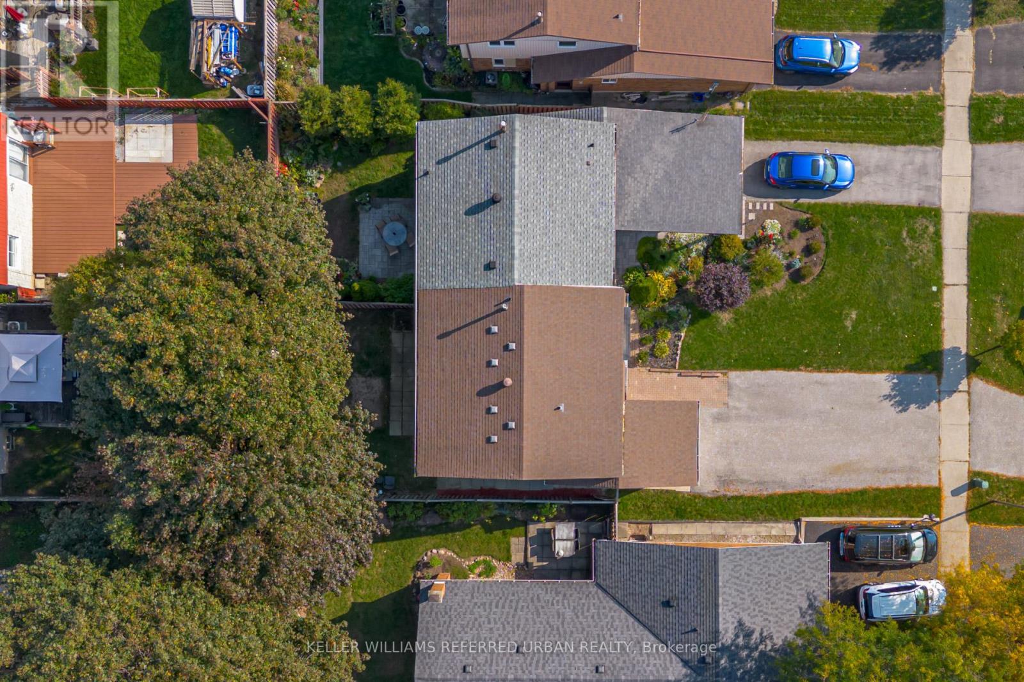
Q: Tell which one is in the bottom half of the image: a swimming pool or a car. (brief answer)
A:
car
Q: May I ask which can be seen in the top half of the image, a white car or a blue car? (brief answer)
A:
blue car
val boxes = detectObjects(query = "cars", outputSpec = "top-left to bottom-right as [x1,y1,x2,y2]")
[833,523,935,570]
[858,577,949,624]
[773,29,857,78]
[761,146,853,190]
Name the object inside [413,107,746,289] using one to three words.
house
